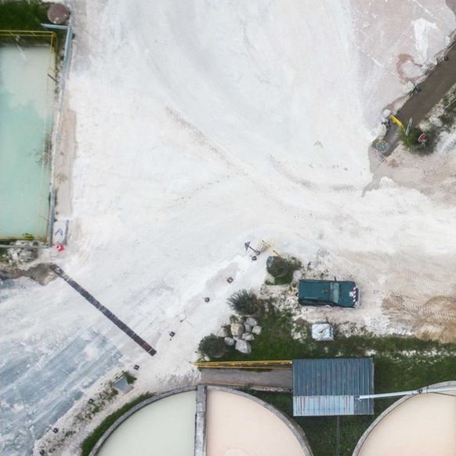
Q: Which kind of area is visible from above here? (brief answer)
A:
industrial area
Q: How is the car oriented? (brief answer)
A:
from side to side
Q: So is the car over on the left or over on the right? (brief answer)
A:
right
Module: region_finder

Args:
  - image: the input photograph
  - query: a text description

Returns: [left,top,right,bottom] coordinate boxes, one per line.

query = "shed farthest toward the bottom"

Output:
[291,358,380,416]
